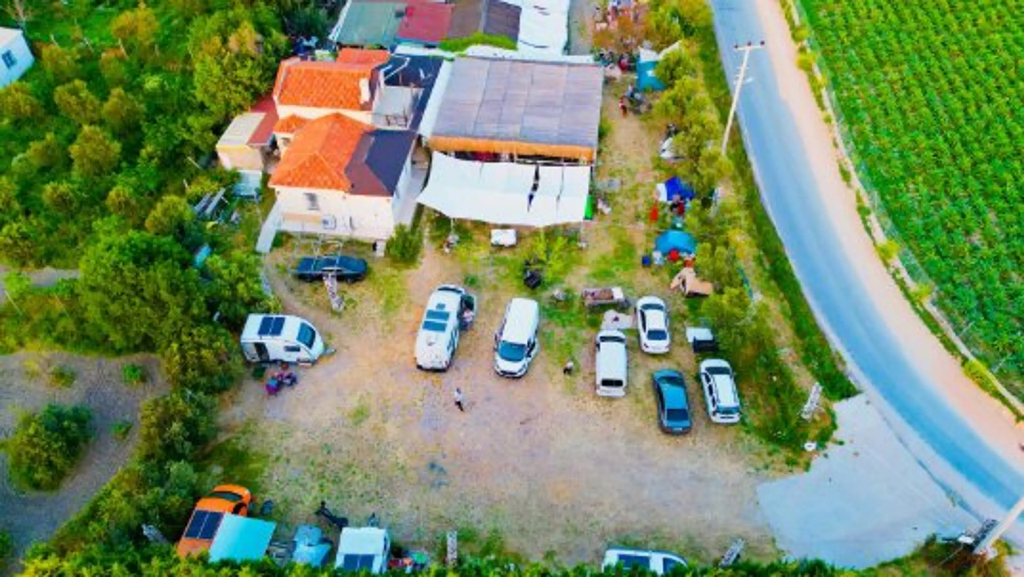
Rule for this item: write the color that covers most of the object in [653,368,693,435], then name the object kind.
blue car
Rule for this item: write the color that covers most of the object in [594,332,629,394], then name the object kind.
white van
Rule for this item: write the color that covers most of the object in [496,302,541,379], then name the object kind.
white van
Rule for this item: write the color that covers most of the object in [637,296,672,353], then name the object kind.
white car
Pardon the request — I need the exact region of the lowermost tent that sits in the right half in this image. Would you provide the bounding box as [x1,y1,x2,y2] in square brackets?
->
[670,269,713,297]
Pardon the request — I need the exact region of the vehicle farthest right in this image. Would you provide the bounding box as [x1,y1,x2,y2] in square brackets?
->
[700,358,746,427]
